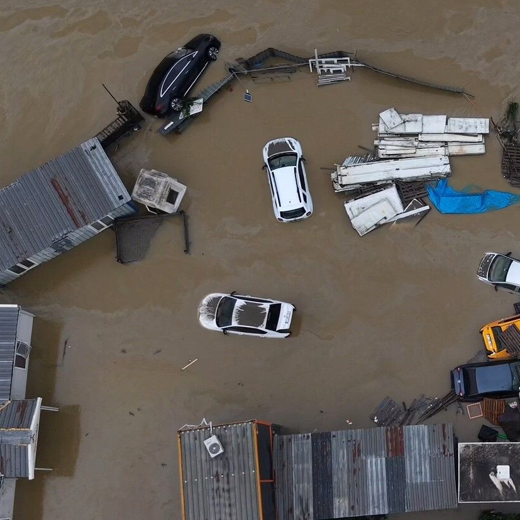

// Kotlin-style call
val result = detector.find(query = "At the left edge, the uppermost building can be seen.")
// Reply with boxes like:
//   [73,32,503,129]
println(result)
[0,138,141,289]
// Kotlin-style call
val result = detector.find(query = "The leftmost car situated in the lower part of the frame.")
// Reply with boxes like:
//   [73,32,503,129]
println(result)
[199,290,297,342]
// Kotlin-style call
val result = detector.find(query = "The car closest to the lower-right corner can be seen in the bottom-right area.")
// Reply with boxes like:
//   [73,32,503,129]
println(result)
[447,353,520,403]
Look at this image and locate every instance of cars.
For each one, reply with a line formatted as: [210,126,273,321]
[476,310,520,358]
[199,290,297,342]
[474,249,520,300]
[261,137,315,226]
[447,353,520,403]
[137,35,211,116]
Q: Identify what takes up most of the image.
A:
water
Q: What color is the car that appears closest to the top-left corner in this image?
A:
black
